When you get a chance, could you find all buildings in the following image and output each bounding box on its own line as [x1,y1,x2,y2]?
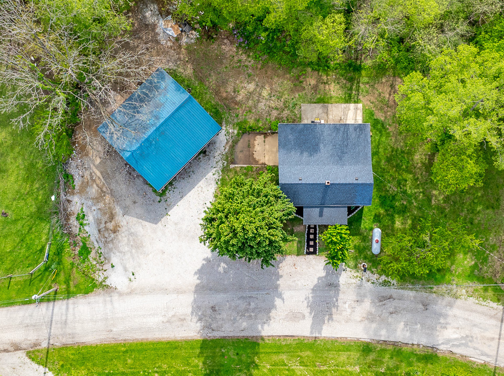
[99,68,222,192]
[278,123,376,225]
